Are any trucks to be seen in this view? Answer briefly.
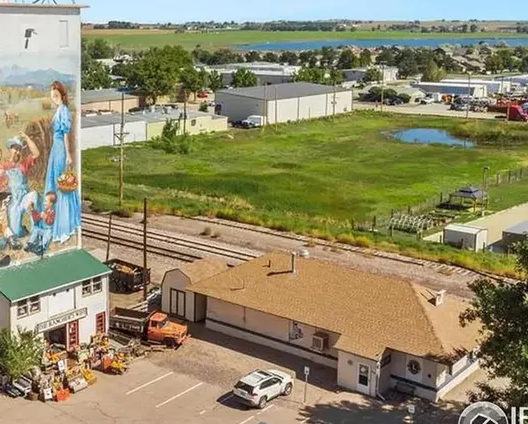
Yes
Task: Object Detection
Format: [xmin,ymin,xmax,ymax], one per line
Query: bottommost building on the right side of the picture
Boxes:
[186,252,502,405]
